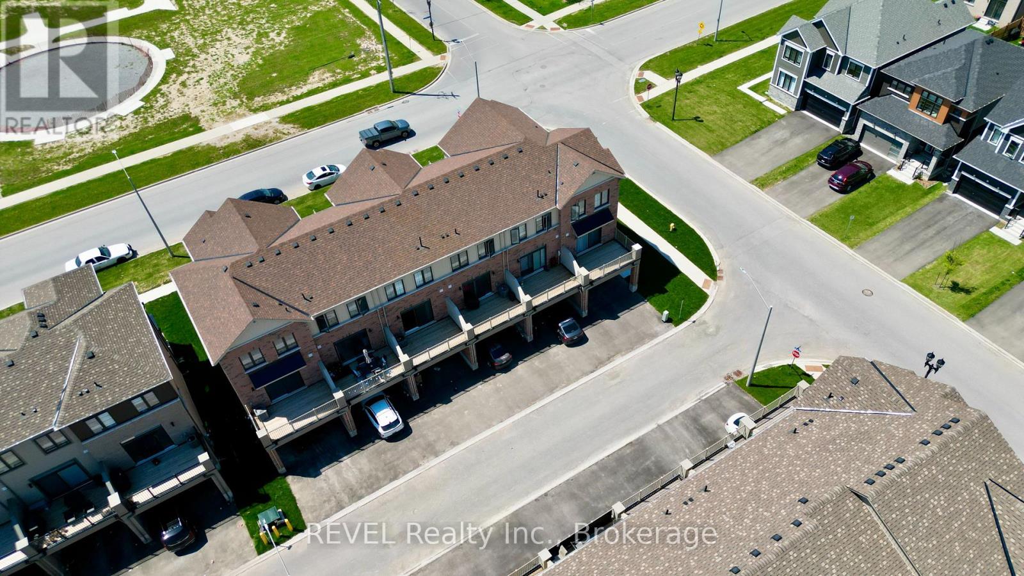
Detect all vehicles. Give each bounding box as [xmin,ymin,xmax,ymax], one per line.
[719,409,756,438]
[477,333,515,369]
[828,162,878,194]
[148,493,195,553]
[355,115,415,144]
[815,140,865,170]
[359,390,406,436]
[298,160,349,189]
[234,184,286,203]
[62,240,133,273]
[535,302,585,344]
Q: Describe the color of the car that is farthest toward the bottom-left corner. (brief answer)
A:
black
